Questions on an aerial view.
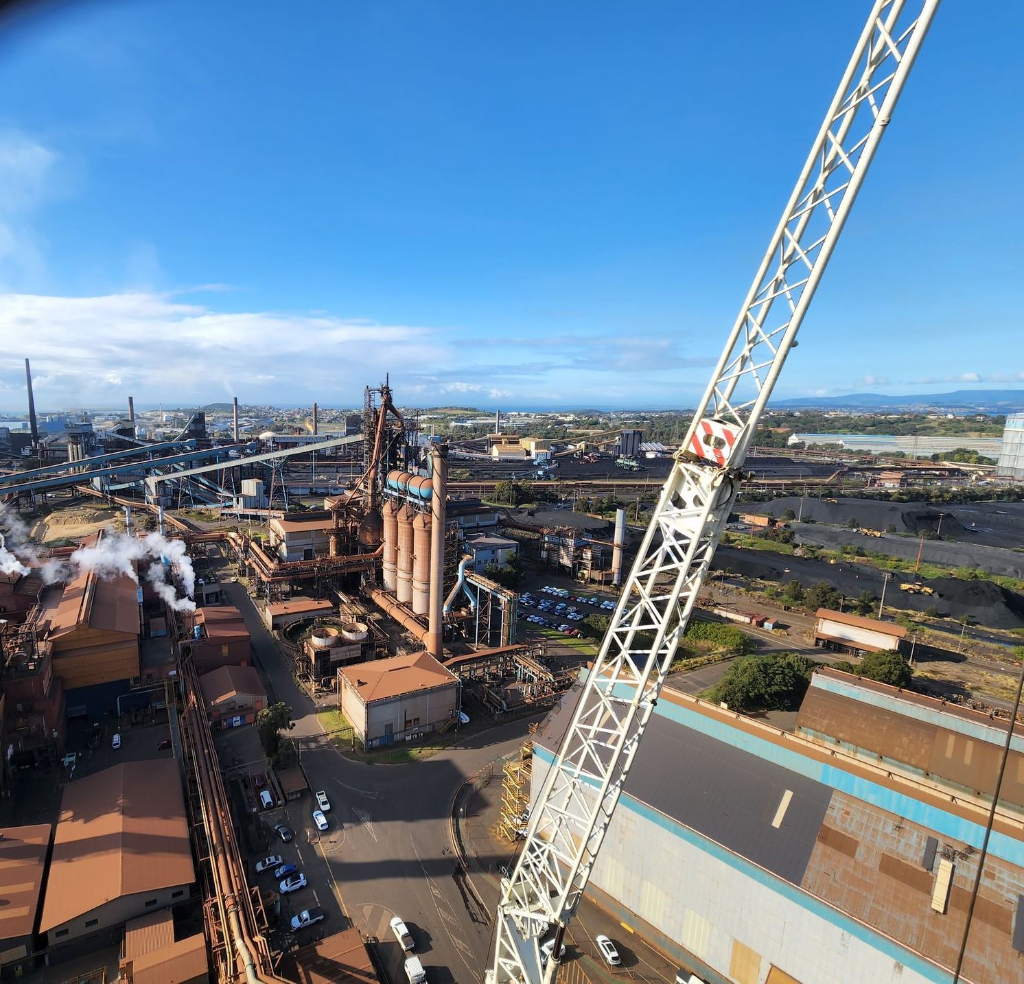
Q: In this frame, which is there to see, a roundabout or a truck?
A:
truck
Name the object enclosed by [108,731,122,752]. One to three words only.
vehicle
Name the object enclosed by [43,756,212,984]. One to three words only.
building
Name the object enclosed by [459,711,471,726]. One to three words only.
vehicle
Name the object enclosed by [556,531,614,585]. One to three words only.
house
